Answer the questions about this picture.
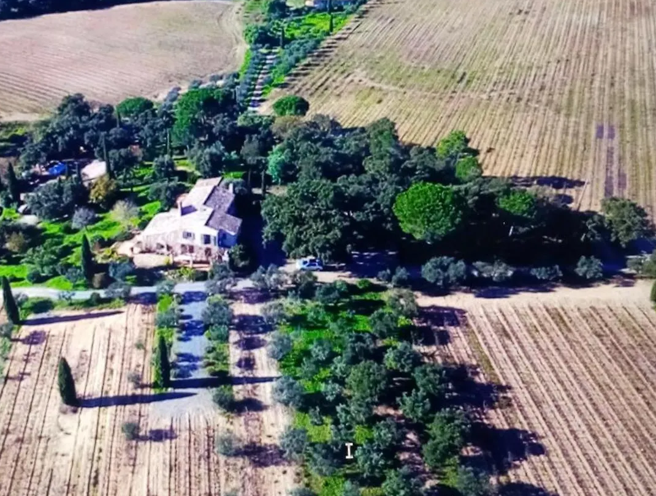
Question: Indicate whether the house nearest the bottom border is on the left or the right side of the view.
left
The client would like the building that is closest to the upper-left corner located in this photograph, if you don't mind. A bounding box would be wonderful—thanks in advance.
[78,161,108,185]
